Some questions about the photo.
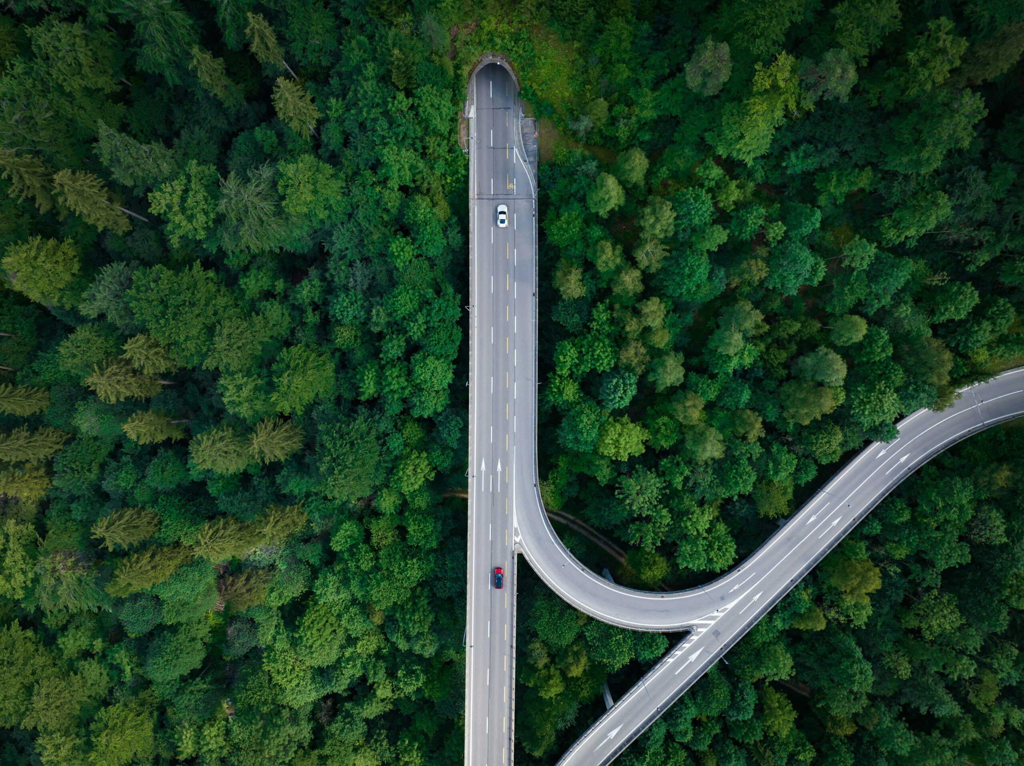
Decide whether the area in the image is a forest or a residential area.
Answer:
forest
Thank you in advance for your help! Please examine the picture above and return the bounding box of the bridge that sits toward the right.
[464,104,1024,766]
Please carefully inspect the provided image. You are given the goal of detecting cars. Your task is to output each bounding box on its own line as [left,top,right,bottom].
[498,203,507,227]
[494,568,504,590]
